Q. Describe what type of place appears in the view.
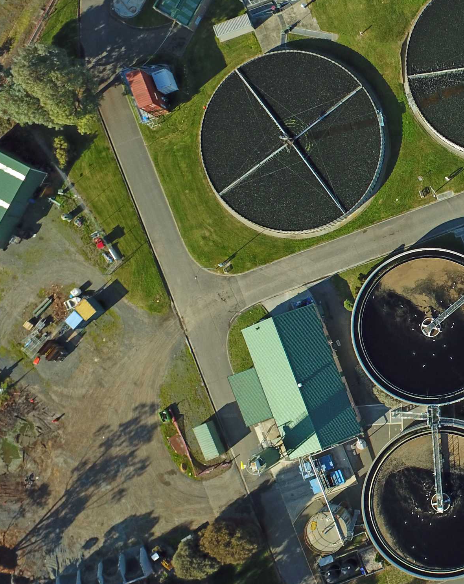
industrial area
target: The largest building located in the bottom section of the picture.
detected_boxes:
[228,304,366,460]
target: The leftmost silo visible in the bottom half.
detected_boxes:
[243,445,289,477]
